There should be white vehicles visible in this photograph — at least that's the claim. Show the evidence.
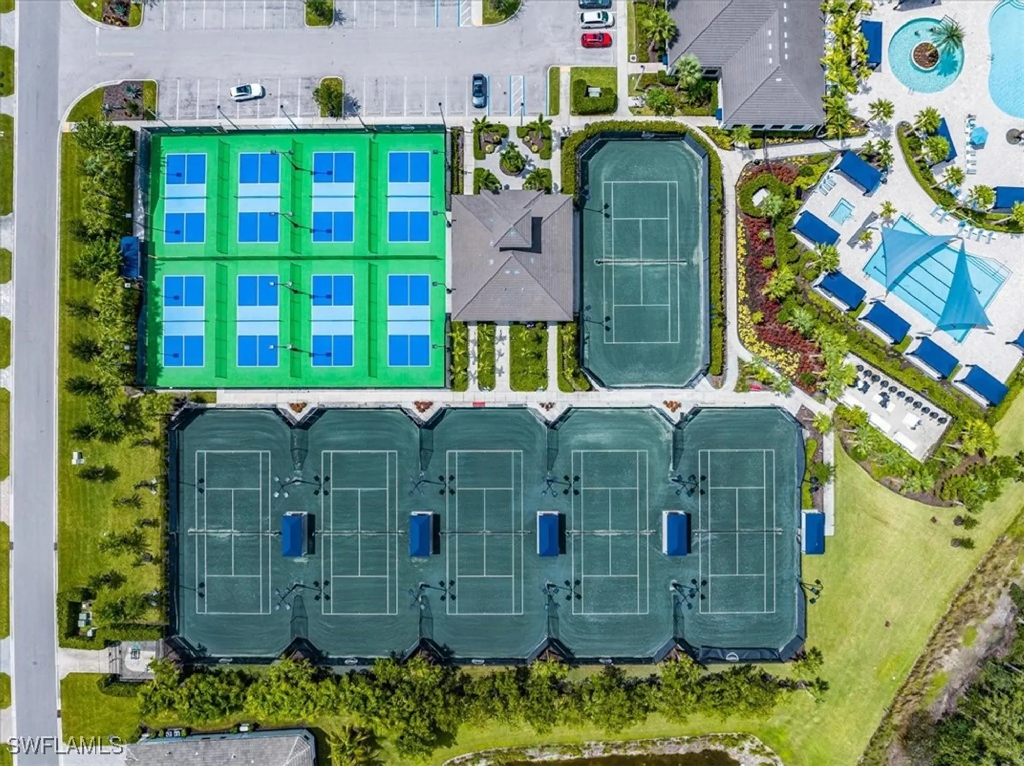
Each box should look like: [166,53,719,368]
[230,82,264,102]
[580,10,614,29]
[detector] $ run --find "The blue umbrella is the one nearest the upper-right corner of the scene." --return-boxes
[965,127,987,147]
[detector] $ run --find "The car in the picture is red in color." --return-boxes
[581,31,612,48]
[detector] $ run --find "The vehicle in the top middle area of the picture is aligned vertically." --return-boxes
[471,74,487,109]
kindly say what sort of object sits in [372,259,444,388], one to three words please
sports court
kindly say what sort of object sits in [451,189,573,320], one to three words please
building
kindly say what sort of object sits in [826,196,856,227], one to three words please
swimming pool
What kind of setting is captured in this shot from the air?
sports ground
